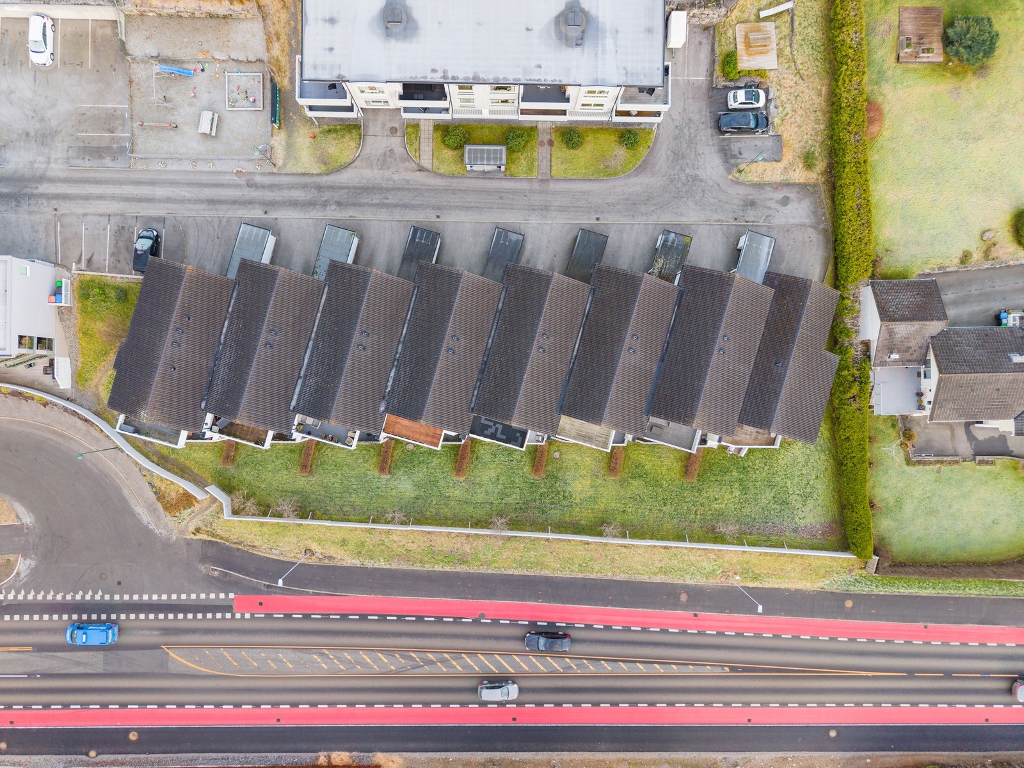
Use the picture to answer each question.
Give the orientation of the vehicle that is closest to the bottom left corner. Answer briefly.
from side to side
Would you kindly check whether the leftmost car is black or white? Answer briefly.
white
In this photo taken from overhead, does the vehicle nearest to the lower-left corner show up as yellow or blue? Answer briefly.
blue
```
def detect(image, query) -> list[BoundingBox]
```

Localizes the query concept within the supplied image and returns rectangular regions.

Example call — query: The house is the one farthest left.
[0,255,70,357]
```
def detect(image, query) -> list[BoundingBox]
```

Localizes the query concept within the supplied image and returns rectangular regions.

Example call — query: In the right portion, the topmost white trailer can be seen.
[665,11,687,66]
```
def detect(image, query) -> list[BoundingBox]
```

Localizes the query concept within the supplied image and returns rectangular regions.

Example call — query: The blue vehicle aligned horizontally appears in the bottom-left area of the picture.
[67,622,122,648]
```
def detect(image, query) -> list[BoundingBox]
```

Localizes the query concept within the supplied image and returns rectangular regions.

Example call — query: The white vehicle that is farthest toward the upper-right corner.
[724,86,765,110]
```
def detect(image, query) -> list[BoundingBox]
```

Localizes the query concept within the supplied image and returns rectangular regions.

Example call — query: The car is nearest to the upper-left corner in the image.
[28,16,59,68]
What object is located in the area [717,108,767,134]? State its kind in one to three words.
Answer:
car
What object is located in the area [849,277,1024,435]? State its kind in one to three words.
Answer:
house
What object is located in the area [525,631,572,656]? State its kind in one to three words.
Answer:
car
